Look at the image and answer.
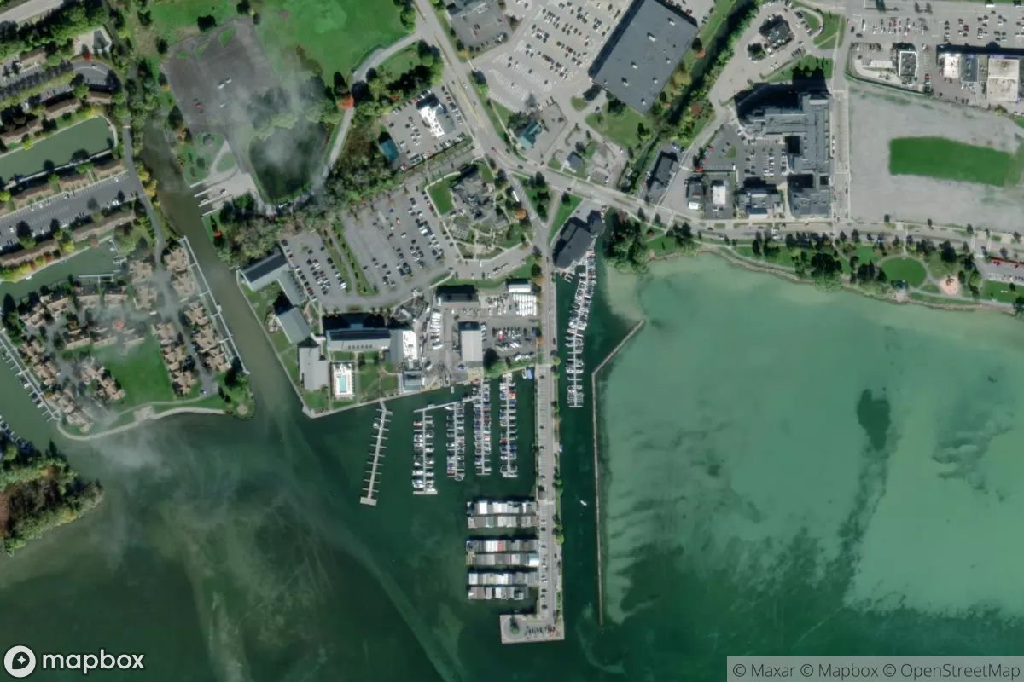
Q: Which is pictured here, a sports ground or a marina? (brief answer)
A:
marina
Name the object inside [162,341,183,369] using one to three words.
house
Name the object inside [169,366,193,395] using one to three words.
house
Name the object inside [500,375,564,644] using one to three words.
pier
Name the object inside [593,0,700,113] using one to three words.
building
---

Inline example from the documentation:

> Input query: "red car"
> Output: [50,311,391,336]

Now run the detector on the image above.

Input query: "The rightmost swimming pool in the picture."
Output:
[332,361,355,397]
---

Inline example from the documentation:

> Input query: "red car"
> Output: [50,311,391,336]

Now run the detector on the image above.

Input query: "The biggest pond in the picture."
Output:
[248,120,333,203]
